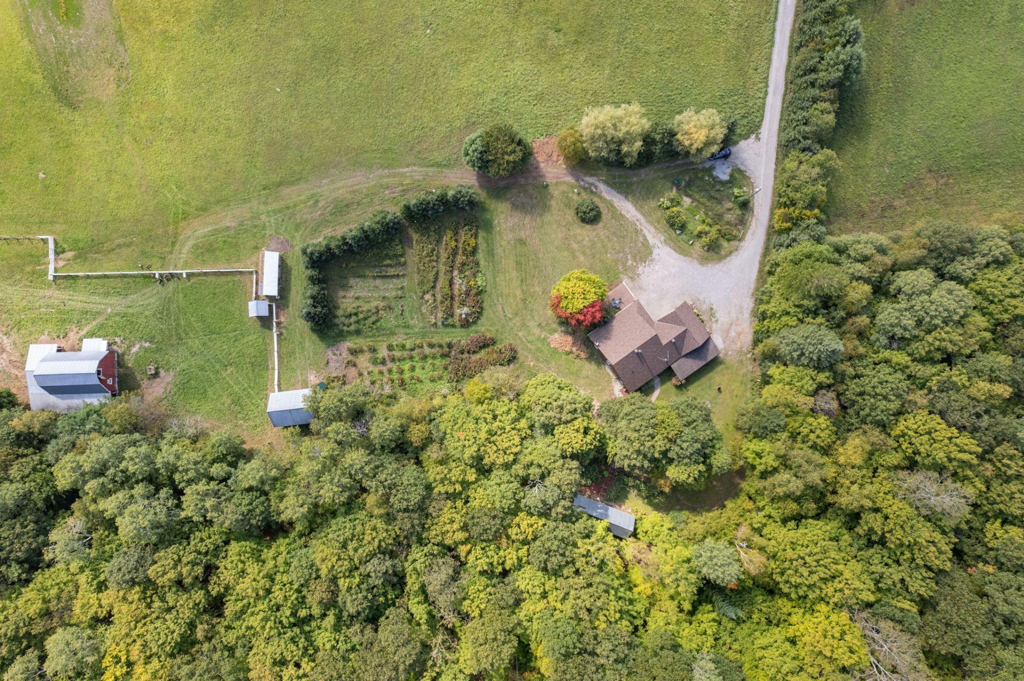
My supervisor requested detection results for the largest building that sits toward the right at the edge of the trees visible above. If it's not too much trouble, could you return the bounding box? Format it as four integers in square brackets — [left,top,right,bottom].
[587,298,720,392]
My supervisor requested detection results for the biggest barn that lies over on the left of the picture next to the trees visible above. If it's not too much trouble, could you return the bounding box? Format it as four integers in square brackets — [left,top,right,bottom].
[27,338,118,415]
